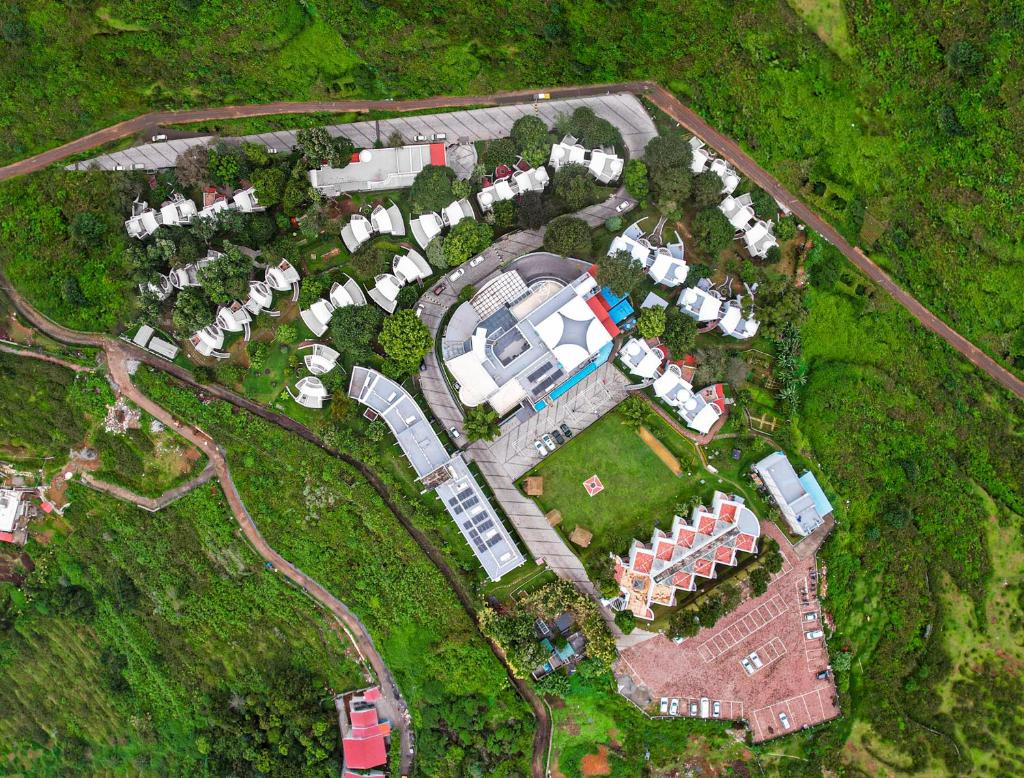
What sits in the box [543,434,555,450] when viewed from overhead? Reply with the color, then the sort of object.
white vehicle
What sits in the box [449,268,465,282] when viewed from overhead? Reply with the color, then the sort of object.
white car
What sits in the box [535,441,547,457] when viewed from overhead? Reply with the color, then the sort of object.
white vehicle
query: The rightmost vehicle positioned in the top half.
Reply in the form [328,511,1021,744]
[614,201,630,213]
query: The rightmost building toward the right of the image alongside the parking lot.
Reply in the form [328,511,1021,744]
[761,450,833,537]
